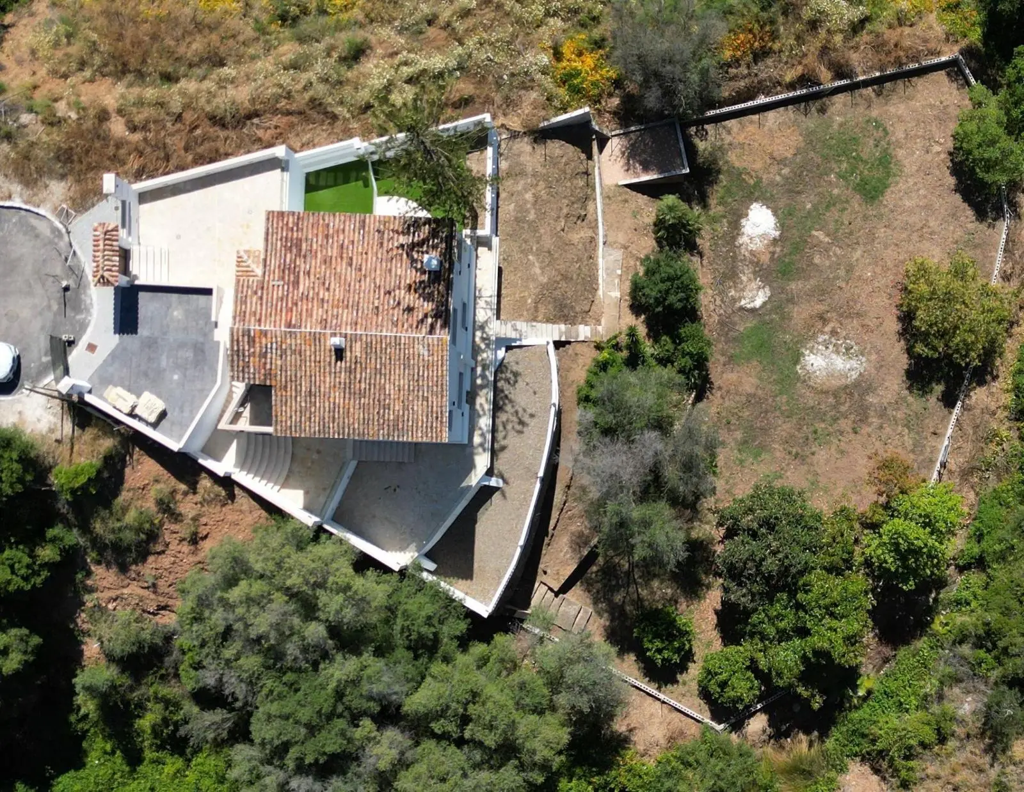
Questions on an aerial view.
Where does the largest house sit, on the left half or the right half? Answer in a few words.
left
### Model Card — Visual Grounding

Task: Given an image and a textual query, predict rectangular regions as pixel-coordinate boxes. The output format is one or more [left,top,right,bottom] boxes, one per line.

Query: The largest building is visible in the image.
[229,211,477,445]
